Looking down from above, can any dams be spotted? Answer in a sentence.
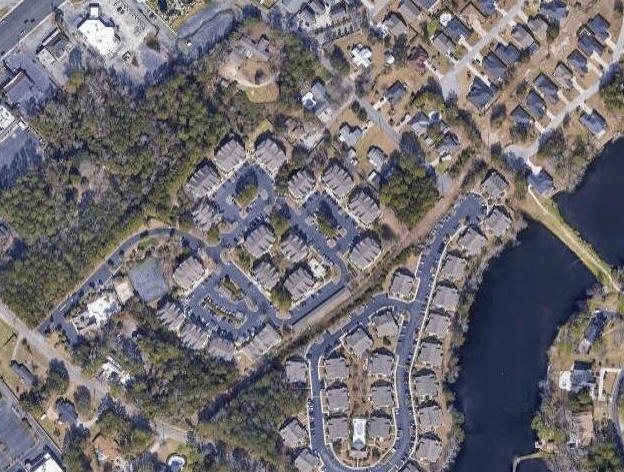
Yes, there is a dam in the image.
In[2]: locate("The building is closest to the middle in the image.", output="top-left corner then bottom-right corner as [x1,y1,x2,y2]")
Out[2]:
[277,230,311,263]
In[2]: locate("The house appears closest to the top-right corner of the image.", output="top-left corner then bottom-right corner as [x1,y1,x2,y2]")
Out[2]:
[588,14,611,39]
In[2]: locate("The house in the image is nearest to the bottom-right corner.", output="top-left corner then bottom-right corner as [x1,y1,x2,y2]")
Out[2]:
[575,409,593,444]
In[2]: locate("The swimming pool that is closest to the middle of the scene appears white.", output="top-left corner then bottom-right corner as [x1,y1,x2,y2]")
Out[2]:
[309,258,326,276]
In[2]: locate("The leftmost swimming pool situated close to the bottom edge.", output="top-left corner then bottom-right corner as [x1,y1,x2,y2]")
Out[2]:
[167,453,186,470]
